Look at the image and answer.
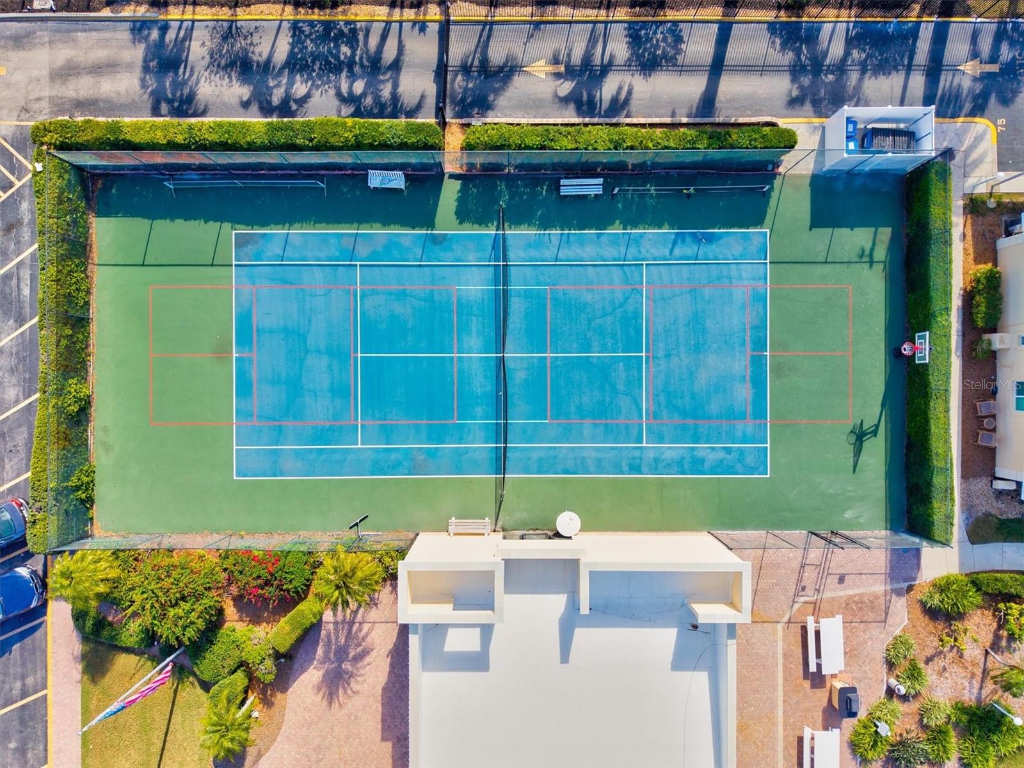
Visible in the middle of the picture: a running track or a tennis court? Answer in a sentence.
The feature located in the middle of the picture is a tennis court.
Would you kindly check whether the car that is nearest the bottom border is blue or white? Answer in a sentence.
The color of the car that is nearest the bottom border is blue.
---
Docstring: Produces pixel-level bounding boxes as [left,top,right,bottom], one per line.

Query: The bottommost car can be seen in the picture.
[0,568,52,626]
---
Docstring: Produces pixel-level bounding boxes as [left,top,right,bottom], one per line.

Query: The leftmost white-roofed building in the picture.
[398,533,751,768]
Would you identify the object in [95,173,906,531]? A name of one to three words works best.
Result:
tennis court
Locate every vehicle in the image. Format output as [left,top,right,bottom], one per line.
[0,568,52,626]
[0,500,33,550]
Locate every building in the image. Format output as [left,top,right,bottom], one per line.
[398,533,751,768]
[983,234,1024,478]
